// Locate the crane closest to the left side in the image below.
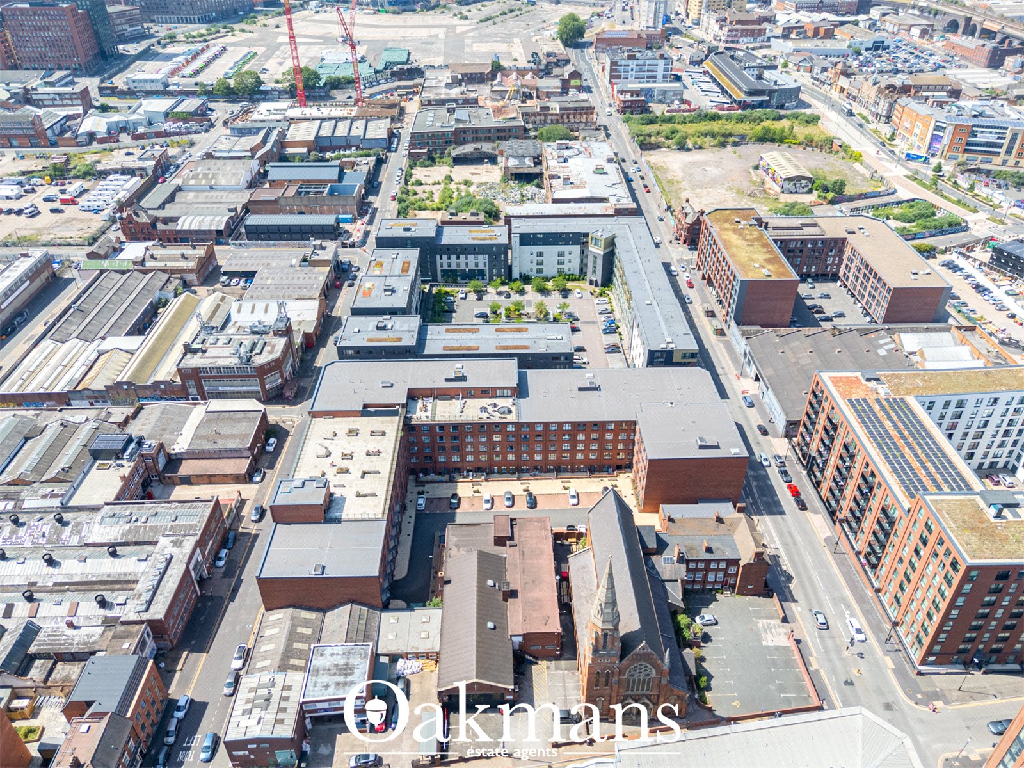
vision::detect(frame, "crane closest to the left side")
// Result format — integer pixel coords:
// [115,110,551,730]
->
[283,0,309,107]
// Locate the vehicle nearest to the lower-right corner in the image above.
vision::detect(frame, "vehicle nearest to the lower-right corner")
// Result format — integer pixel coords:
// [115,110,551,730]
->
[986,720,1013,735]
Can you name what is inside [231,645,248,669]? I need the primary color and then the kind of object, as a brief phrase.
white car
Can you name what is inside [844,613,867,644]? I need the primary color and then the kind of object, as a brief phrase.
white vehicle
